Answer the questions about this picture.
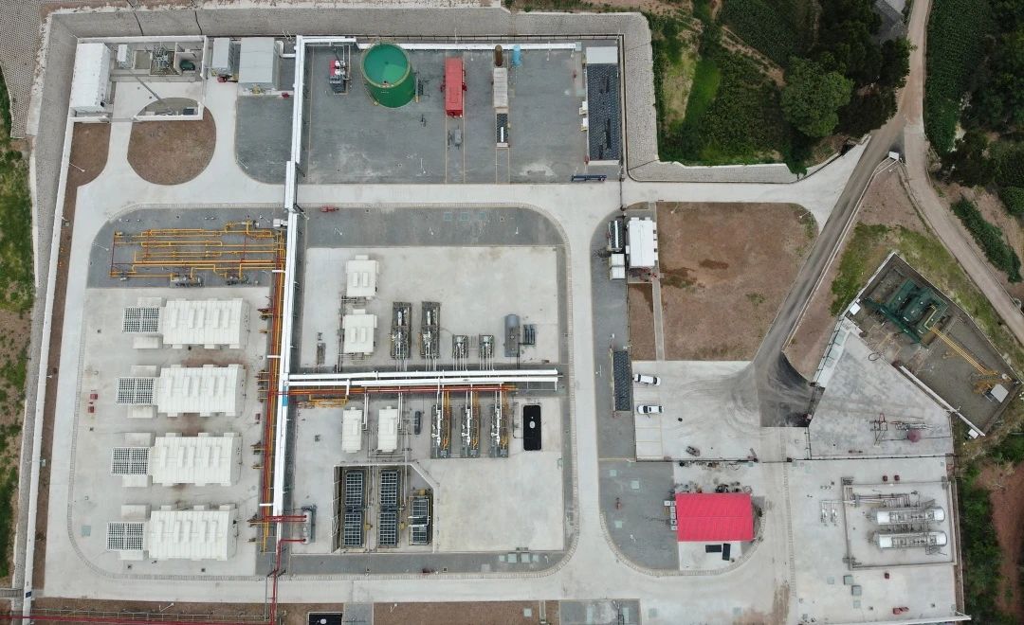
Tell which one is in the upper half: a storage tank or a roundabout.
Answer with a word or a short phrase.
storage tank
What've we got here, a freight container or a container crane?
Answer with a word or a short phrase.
freight container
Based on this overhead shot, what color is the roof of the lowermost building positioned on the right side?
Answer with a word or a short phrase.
red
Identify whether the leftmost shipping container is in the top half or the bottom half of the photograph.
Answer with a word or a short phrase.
top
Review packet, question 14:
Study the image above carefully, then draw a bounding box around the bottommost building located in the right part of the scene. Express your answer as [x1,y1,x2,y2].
[674,493,755,542]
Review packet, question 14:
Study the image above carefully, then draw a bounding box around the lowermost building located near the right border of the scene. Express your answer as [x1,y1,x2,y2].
[983,382,1010,404]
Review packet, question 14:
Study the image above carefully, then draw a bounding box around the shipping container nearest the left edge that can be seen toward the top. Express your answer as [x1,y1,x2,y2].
[442,58,469,120]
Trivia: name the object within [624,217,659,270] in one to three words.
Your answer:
building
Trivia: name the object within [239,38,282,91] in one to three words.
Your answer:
house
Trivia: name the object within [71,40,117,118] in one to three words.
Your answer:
building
